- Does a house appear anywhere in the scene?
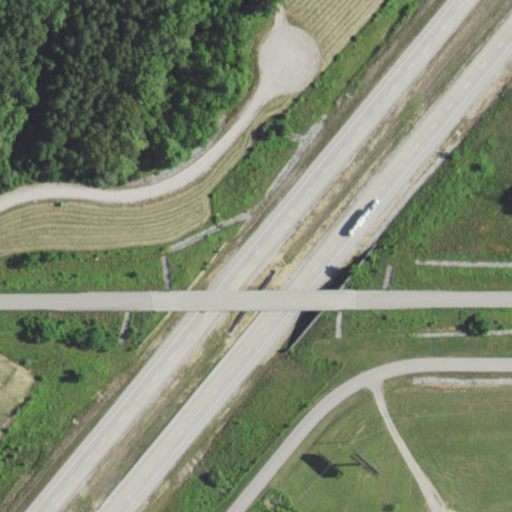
No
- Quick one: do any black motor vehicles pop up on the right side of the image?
No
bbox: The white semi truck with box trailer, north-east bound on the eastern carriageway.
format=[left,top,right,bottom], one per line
[350,200,380,236]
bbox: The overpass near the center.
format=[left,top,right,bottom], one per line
[137,239,384,354]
